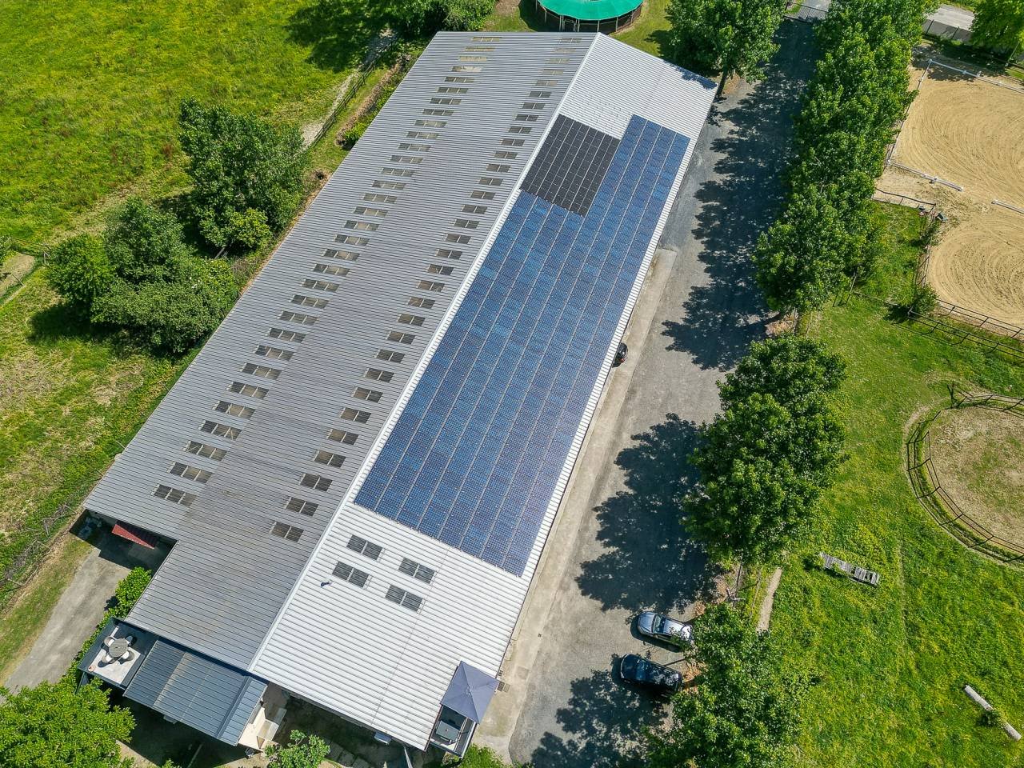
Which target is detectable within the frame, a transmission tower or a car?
car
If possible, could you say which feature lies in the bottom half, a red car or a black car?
black car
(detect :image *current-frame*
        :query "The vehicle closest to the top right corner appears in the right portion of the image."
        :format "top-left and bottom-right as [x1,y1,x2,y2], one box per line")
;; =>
[616,347,635,369]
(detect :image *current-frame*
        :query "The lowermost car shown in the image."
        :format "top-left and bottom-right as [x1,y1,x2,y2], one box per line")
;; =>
[618,661,686,703]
